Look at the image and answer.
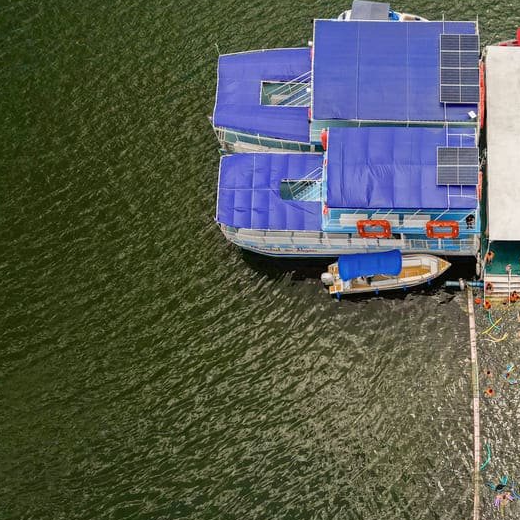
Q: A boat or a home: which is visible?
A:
boat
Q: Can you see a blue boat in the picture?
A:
Yes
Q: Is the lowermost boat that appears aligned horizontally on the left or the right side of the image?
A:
right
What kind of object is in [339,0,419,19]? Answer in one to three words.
boat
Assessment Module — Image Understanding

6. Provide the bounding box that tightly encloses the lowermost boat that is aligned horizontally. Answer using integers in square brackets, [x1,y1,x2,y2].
[322,248,452,300]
